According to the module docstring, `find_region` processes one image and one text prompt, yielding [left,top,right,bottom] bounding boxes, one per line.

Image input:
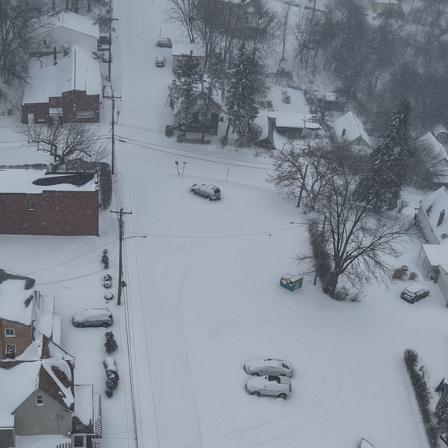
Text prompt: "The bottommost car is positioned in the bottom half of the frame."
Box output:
[246,378,294,402]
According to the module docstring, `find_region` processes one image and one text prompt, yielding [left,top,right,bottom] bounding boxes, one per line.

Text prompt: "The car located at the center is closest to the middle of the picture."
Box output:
[191,183,223,200]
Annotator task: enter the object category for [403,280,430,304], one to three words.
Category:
car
